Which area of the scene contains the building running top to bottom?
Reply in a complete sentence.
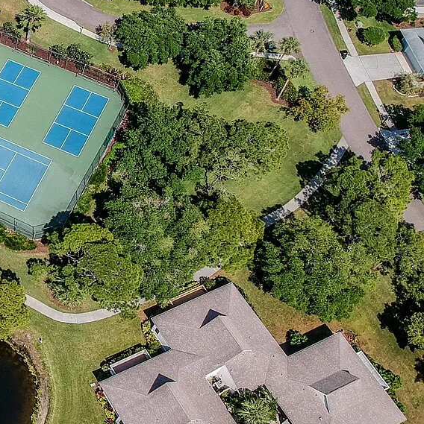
The building running top to bottom sits in the top right section of the image.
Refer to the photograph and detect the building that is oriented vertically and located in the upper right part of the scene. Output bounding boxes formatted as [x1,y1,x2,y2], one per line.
[393,19,424,83]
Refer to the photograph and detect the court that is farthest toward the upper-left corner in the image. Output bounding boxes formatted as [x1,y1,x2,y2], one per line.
[0,59,41,128]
